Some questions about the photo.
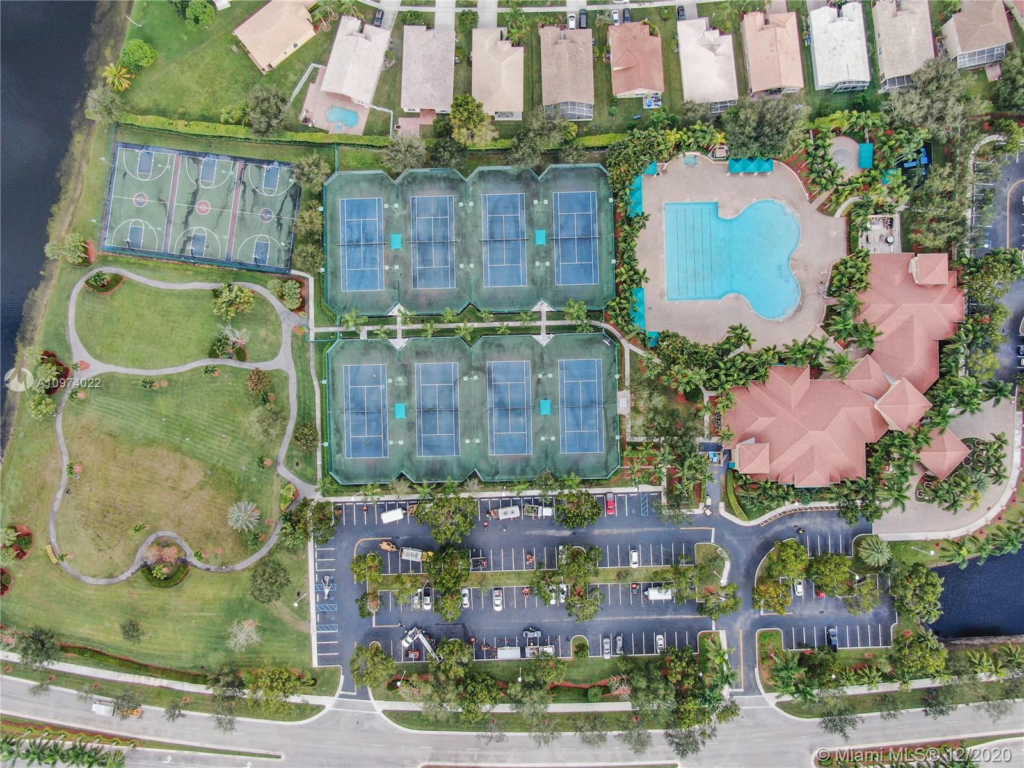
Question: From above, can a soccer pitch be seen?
No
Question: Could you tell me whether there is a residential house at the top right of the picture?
Yes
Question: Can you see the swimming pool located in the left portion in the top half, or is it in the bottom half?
top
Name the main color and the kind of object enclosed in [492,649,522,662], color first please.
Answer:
white vehicle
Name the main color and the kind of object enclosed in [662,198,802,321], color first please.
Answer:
blue swimming pool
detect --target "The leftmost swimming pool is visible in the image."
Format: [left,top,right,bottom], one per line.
[324,105,360,128]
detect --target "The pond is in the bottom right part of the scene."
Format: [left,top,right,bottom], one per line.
[927,543,1024,636]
